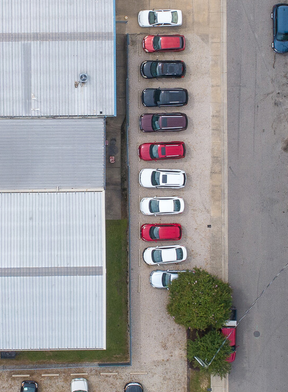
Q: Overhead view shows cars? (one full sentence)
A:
Yes, the image includes a car.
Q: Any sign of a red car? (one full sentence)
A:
Yes, a red car appears in the view.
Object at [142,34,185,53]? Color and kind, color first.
red car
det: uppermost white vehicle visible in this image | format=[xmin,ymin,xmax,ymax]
[138,7,183,27]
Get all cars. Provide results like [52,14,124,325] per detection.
[142,34,185,53]
[70,376,88,392]
[138,141,186,161]
[270,3,288,53]
[140,111,187,132]
[143,245,187,266]
[138,7,183,27]
[140,197,184,216]
[149,270,193,291]
[124,381,144,392]
[141,86,188,107]
[20,380,39,392]
[139,168,186,189]
[140,223,182,243]
[140,59,186,79]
